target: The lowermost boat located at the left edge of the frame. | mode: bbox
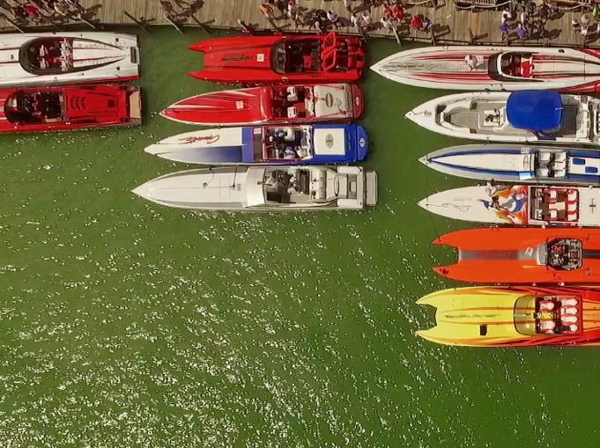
[0,85,149,132]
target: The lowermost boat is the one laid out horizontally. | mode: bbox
[416,286,600,348]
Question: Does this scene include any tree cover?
No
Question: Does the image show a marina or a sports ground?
marina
